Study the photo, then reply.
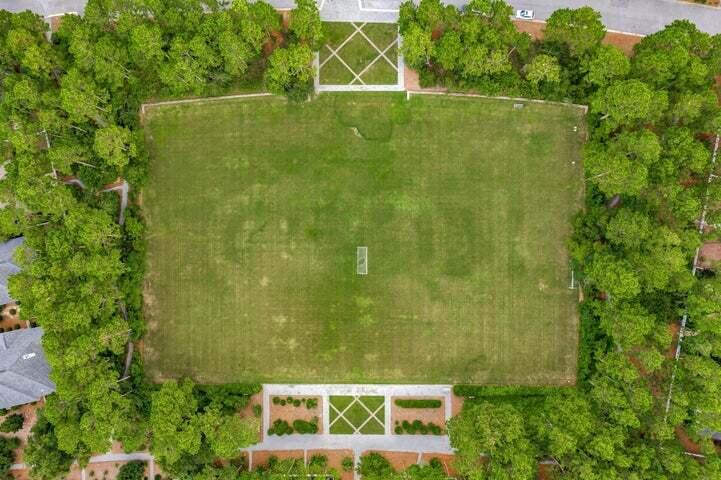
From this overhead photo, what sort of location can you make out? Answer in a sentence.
What you see here is a sports ground.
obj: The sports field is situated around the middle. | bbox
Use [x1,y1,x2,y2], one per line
[142,91,588,384]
